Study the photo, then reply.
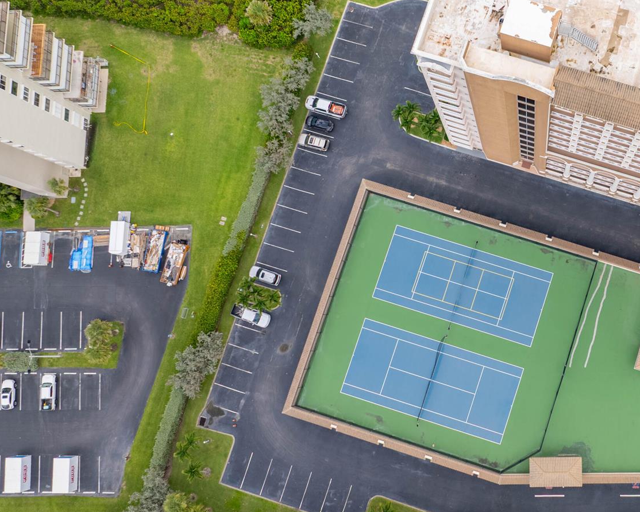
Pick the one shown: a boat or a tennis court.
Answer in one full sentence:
Visible in the photo is a tennis court.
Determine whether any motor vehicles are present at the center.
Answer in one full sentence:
Yes, at the center there is a motor vehicle.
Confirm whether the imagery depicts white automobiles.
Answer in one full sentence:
Yes, there's a white automobile here.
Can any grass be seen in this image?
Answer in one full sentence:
Yes, some grass is visible.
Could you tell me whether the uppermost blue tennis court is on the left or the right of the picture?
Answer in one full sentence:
It is on the right.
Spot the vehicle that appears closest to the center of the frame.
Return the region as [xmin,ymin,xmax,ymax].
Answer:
[249,266,283,286]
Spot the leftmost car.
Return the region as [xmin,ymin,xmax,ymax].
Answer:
[0,378,18,412]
